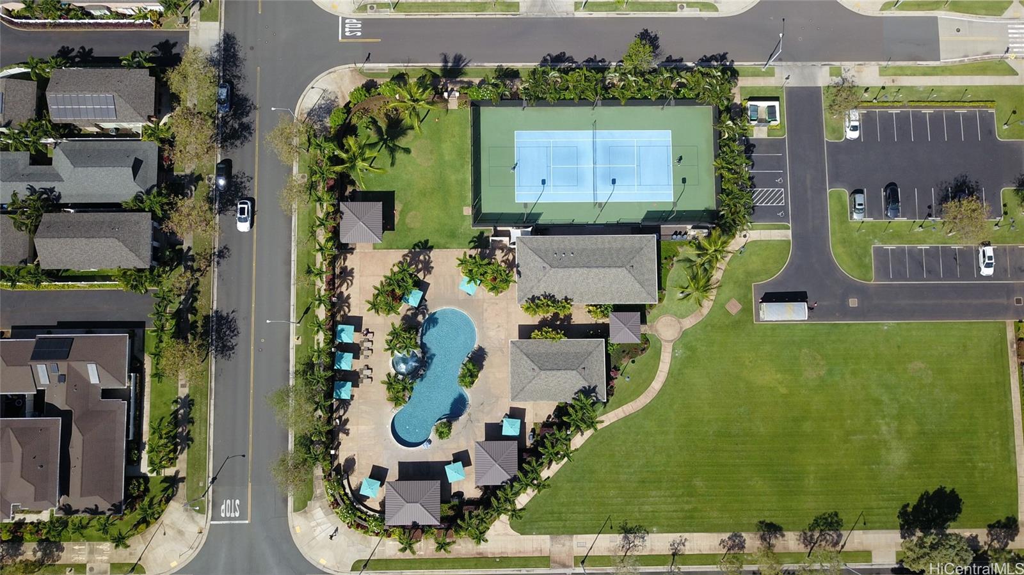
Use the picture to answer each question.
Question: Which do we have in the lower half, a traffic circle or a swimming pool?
swimming pool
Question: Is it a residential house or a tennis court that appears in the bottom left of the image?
residential house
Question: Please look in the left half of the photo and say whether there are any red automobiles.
No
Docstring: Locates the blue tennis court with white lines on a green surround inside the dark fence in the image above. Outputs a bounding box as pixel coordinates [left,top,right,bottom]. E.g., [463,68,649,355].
[472,104,717,225]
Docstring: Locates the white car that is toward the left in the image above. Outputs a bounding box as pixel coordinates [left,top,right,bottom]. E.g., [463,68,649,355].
[236,201,252,232]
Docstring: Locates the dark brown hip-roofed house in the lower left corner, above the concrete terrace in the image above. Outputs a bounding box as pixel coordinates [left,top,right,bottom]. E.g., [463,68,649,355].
[0,417,67,521]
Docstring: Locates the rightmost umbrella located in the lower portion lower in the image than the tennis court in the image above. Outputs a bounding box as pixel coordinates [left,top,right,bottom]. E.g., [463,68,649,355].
[502,417,520,436]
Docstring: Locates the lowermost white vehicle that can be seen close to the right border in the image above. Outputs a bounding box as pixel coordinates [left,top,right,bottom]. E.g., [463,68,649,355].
[979,246,997,277]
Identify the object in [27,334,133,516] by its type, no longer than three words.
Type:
house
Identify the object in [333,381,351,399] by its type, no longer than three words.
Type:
umbrella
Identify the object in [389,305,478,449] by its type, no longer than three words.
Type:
swimming pool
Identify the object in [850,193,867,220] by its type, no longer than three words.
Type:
car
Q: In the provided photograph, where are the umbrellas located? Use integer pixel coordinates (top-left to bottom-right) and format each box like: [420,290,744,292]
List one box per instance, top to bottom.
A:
[458,279,479,298]
[401,289,424,309]
[337,325,355,343]
[335,352,353,370]
[333,381,351,399]
[502,417,520,436]
[445,461,466,483]
[359,477,381,498]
